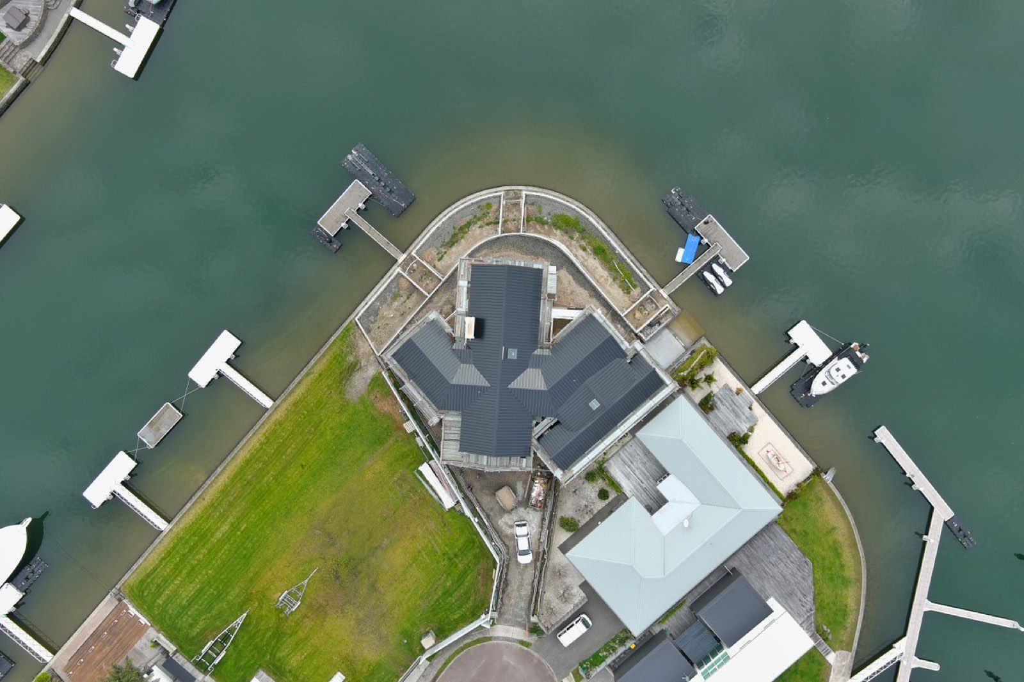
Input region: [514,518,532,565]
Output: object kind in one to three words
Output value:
vehicle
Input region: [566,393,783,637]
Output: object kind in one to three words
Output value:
house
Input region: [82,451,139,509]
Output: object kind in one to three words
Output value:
pier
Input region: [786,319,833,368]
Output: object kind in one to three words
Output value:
pier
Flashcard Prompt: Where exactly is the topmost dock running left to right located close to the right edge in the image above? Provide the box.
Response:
[923,599,1017,629]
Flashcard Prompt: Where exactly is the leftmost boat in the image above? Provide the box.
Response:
[0,520,40,587]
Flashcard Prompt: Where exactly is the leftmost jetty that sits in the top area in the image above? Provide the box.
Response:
[0,204,23,245]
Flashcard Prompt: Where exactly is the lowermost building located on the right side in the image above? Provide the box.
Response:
[599,567,814,682]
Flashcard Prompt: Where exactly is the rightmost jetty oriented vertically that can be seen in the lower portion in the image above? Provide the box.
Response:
[892,507,945,682]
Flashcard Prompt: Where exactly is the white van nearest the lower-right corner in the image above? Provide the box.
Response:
[557,610,592,646]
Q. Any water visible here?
Yes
